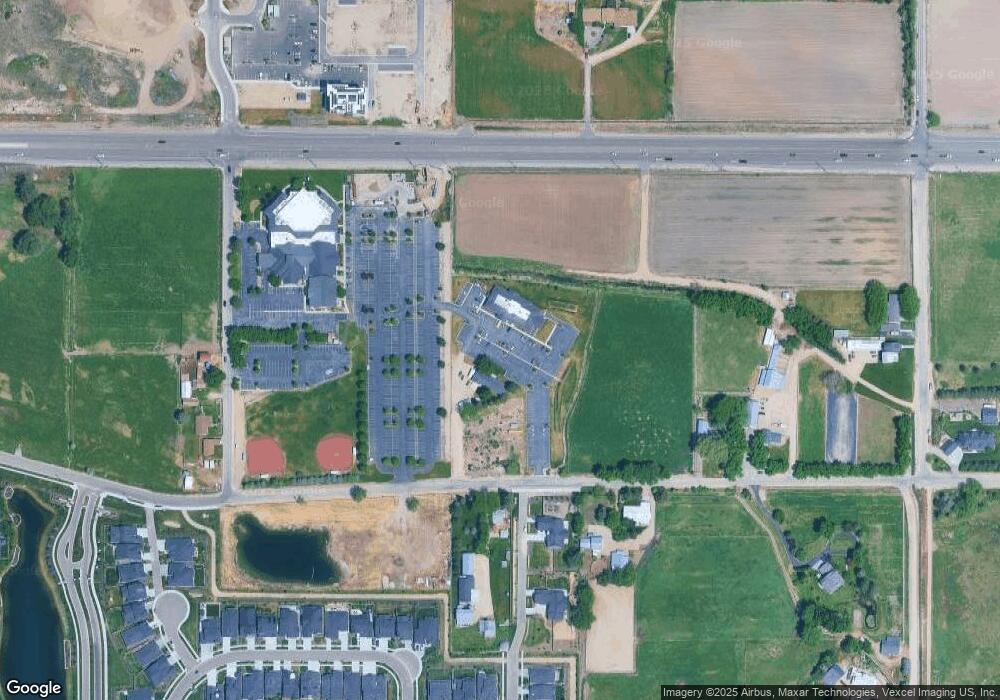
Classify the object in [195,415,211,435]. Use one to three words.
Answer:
house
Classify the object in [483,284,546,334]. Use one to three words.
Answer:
building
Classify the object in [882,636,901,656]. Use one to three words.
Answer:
barn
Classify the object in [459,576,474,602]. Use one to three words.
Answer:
barn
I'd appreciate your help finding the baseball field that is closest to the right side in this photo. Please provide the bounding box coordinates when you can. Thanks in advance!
[315,433,354,474]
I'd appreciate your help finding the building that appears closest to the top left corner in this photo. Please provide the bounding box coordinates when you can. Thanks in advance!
[326,83,364,114]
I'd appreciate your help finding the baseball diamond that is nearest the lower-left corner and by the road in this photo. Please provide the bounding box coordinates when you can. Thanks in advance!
[245,435,286,477]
